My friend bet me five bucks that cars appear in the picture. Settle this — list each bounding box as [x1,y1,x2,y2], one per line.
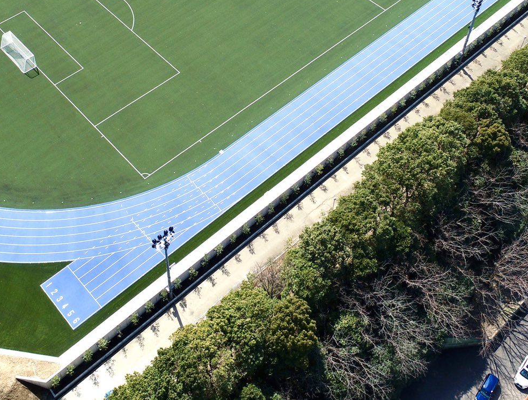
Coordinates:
[475,371,499,400]
[514,353,528,390]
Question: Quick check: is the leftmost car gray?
No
